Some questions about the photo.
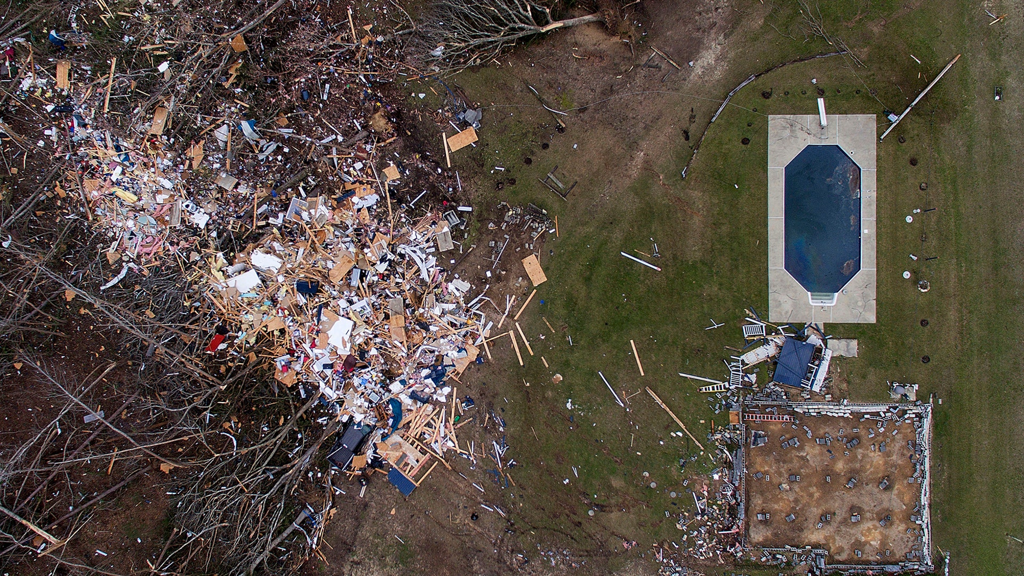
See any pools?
Yes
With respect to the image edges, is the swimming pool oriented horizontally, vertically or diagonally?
vertically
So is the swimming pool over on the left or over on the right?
right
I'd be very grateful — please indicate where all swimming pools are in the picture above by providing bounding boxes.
[783,143,870,311]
